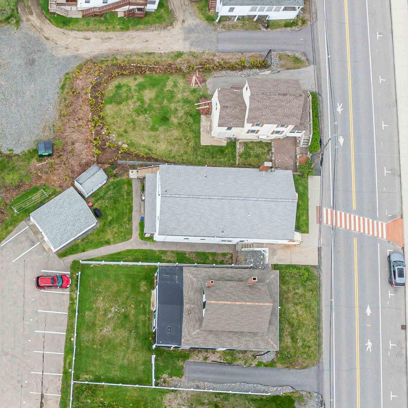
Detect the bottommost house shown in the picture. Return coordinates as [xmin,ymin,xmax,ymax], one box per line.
[155,267,279,351]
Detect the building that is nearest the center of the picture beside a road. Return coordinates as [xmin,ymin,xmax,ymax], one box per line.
[129,160,303,264]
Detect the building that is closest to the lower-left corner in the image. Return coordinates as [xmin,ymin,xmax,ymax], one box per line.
[22,187,97,261]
